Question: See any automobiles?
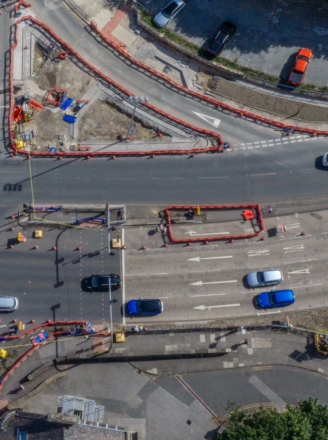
Yes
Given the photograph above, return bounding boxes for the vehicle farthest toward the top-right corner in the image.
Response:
[287,45,314,89]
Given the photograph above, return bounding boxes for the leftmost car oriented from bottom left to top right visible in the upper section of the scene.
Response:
[152,0,188,28]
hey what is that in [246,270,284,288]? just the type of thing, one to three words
car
